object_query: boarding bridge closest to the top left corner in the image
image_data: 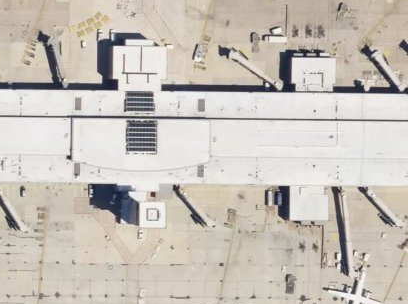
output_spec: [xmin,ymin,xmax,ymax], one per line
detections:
[47,39,68,90]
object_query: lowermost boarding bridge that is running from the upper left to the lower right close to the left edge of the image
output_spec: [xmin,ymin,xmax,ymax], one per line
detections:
[0,187,30,235]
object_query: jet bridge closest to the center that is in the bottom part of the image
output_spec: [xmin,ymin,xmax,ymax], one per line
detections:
[174,184,218,230]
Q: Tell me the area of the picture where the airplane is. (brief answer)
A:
bottom right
